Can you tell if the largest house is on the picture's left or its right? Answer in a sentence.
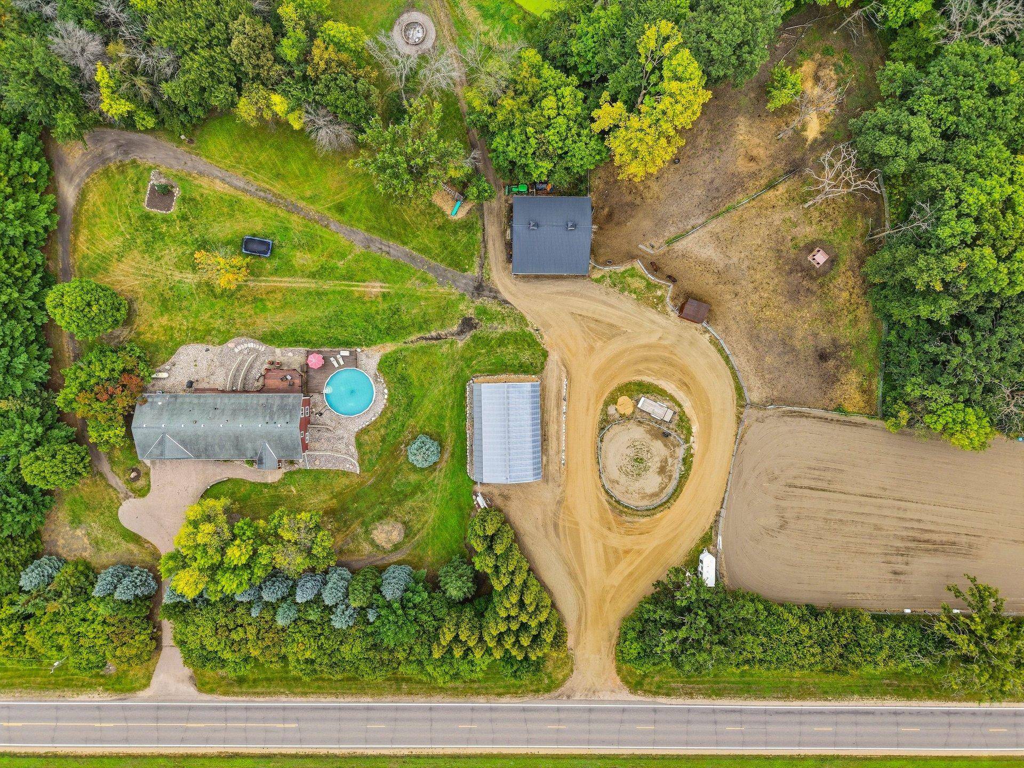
The largest house is on the left side of the image.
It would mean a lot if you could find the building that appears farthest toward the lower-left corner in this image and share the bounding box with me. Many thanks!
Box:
[128,394,310,470]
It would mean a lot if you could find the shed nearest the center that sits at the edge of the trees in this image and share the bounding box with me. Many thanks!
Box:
[472,381,541,483]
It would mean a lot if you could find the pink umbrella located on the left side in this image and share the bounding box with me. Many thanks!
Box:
[308,353,325,370]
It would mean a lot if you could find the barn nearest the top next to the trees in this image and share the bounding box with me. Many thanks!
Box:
[513,196,593,277]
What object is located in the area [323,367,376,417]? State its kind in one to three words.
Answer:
swimming pool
